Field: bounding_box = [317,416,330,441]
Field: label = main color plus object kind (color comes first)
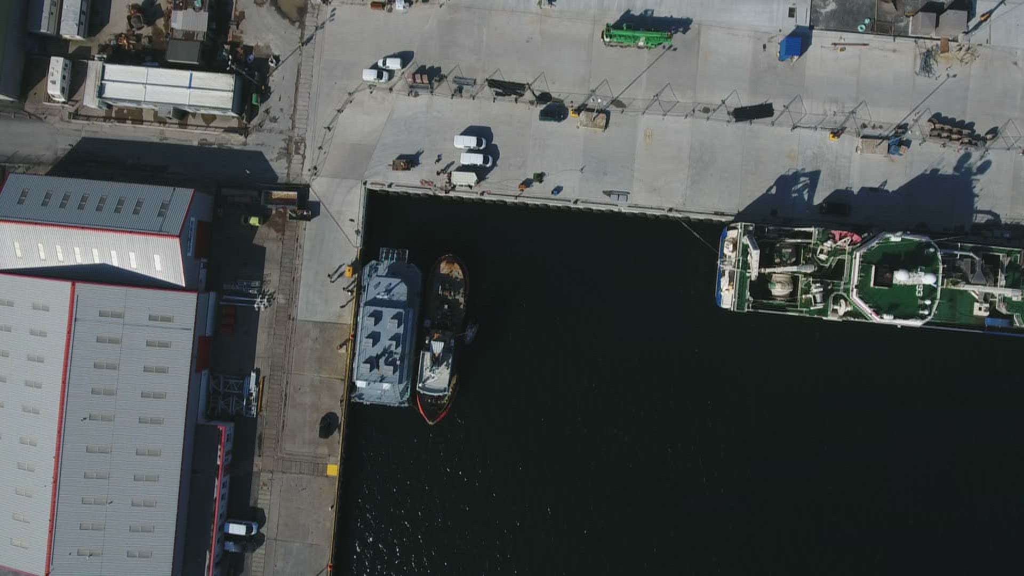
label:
black vehicle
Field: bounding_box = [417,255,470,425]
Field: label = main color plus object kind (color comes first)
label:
black boat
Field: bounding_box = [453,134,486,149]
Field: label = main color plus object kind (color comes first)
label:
white vehicle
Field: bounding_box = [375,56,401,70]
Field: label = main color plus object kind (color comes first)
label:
white vehicle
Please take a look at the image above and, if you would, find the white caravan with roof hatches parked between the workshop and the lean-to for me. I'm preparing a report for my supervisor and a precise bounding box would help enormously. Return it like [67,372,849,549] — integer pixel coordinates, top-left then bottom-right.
[43,54,69,108]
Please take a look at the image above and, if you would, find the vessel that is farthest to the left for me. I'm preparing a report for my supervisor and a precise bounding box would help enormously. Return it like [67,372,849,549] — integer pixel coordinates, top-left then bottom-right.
[352,248,423,408]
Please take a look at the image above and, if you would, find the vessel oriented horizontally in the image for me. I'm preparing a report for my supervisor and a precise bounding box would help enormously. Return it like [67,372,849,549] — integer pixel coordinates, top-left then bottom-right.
[718,221,1024,335]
